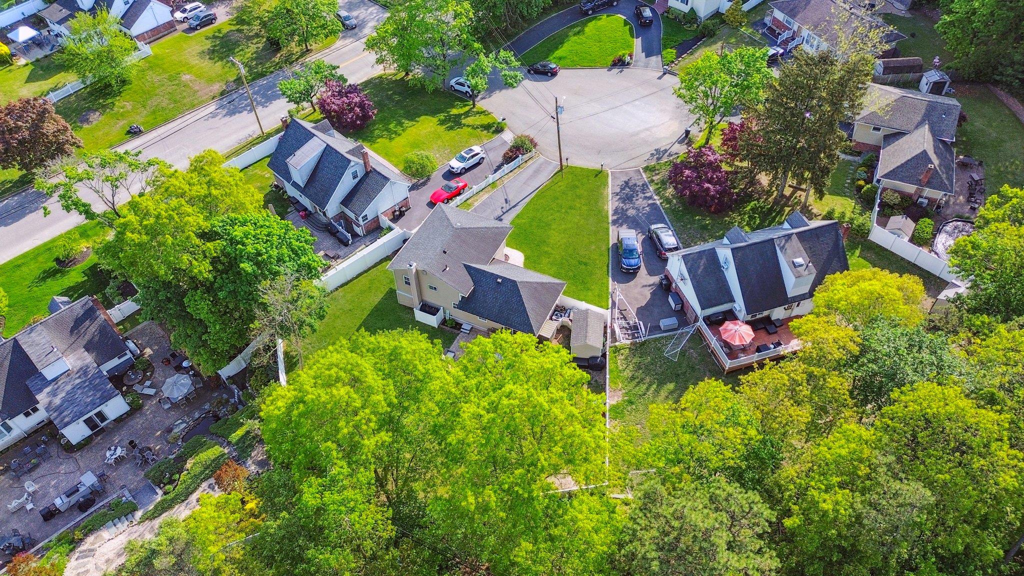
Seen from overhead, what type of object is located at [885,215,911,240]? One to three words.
shed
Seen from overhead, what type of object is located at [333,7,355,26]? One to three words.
car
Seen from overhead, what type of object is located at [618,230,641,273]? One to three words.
truck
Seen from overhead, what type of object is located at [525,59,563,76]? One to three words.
car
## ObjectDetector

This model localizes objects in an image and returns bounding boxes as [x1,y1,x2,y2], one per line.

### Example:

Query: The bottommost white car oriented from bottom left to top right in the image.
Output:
[447,141,489,172]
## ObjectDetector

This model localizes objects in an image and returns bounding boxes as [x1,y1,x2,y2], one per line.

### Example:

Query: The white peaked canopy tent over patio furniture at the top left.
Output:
[0,23,40,54]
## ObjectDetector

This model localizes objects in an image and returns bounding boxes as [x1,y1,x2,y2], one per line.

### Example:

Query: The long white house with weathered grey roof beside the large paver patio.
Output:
[0,285,142,450]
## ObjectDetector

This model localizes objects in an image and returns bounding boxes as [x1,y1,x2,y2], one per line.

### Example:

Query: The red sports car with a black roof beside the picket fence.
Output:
[429,175,468,204]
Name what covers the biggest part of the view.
trees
